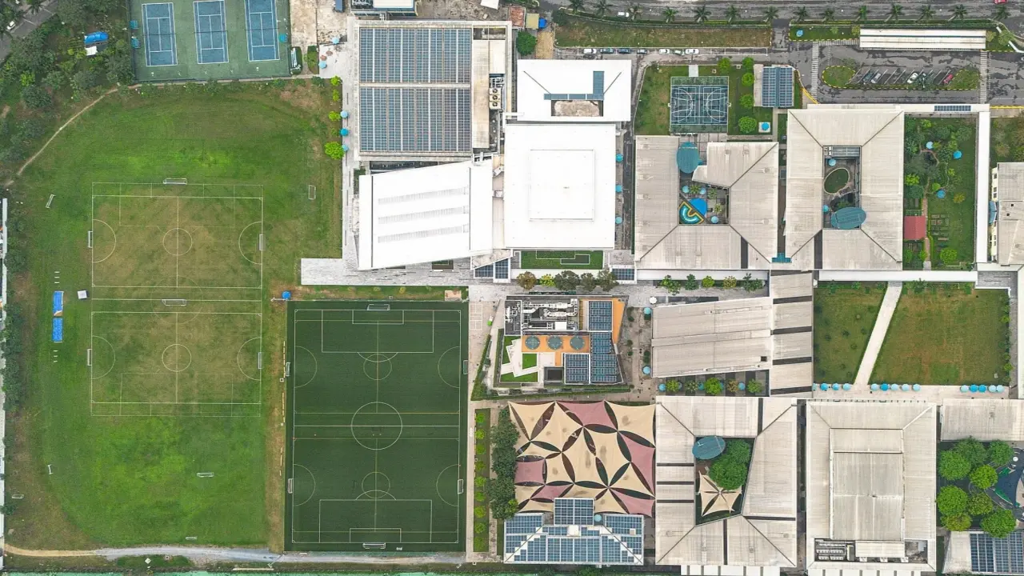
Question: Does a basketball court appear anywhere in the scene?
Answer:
Yes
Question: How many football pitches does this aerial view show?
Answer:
two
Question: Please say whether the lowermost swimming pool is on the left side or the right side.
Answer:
right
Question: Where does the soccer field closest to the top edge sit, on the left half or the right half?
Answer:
left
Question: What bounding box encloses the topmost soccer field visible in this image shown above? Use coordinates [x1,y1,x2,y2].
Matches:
[91,183,263,416]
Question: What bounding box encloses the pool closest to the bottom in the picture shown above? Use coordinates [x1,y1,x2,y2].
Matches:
[679,201,705,224]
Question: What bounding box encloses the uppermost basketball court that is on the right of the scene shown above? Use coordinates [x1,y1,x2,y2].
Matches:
[670,76,729,133]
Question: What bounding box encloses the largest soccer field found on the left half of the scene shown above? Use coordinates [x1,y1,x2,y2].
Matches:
[284,300,468,553]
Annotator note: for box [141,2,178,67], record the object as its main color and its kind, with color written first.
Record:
blue tennis court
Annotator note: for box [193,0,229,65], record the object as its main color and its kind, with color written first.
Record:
blue tennis court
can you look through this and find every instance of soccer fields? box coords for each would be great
[284,300,468,553]
[91,183,263,416]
